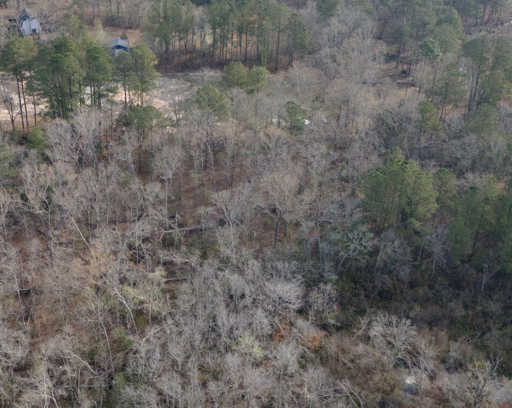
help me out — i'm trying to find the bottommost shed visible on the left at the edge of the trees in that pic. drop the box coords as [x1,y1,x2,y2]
[110,34,131,55]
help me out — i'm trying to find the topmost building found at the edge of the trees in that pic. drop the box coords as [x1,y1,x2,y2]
[20,8,41,35]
